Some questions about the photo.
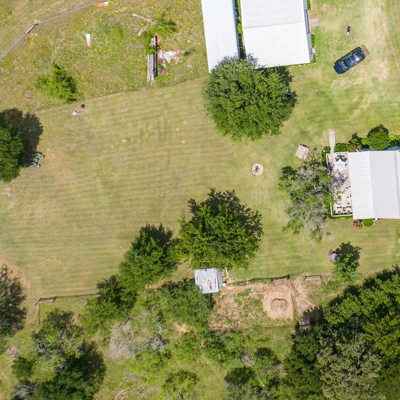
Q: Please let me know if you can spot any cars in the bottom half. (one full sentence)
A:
No, there's no car to be seen in the bottom half.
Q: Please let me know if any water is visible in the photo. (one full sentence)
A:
No, no water is visible.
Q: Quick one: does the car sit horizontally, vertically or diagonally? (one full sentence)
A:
The car is oriented diagonally.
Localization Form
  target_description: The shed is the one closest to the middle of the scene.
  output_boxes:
[194,263,223,294]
